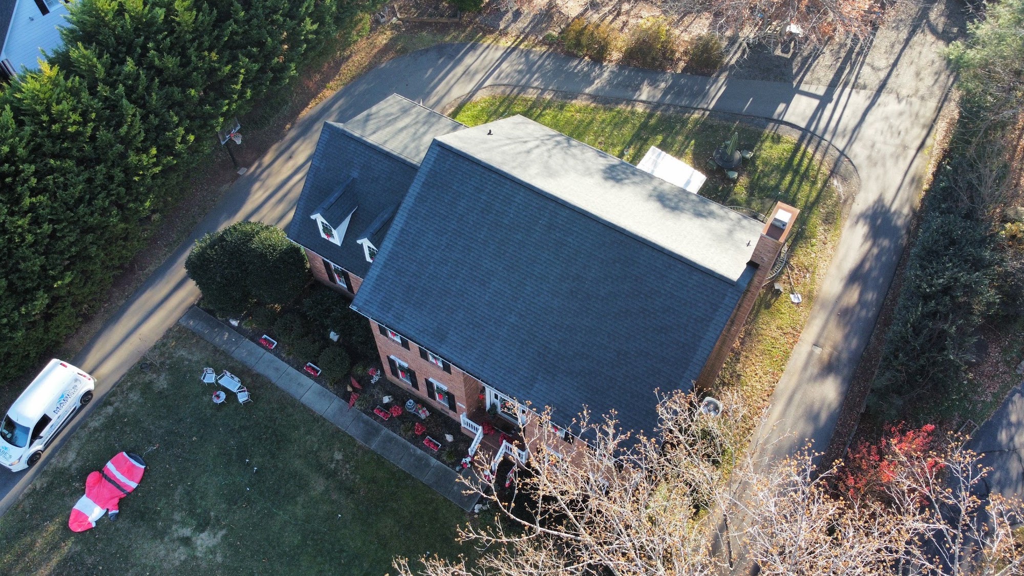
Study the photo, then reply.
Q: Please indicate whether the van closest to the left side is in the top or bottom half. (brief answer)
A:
bottom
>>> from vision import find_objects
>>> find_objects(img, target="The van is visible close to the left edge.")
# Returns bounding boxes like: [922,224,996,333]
[0,348,102,471]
